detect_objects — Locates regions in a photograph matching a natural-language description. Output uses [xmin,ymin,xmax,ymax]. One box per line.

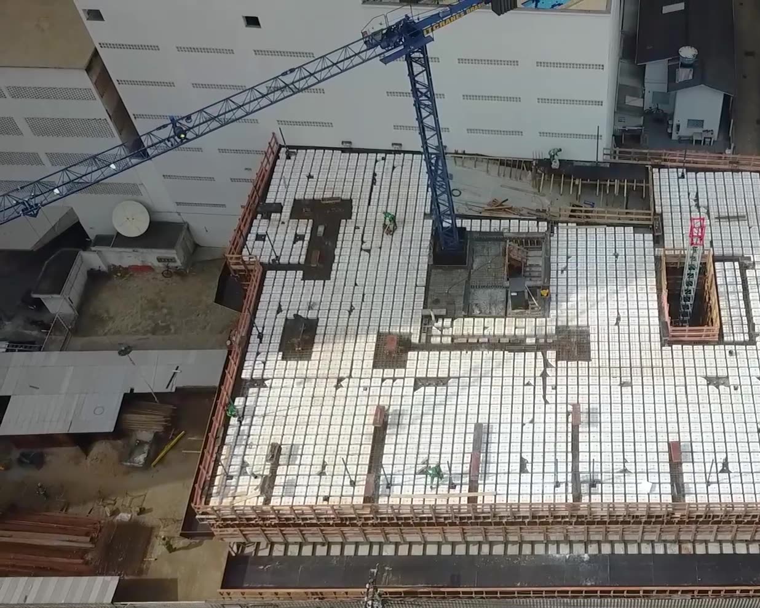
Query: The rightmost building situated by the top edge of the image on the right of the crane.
[632,0,735,141]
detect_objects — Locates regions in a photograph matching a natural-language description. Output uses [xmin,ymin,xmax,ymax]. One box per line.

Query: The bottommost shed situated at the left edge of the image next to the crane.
[0,331,227,441]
